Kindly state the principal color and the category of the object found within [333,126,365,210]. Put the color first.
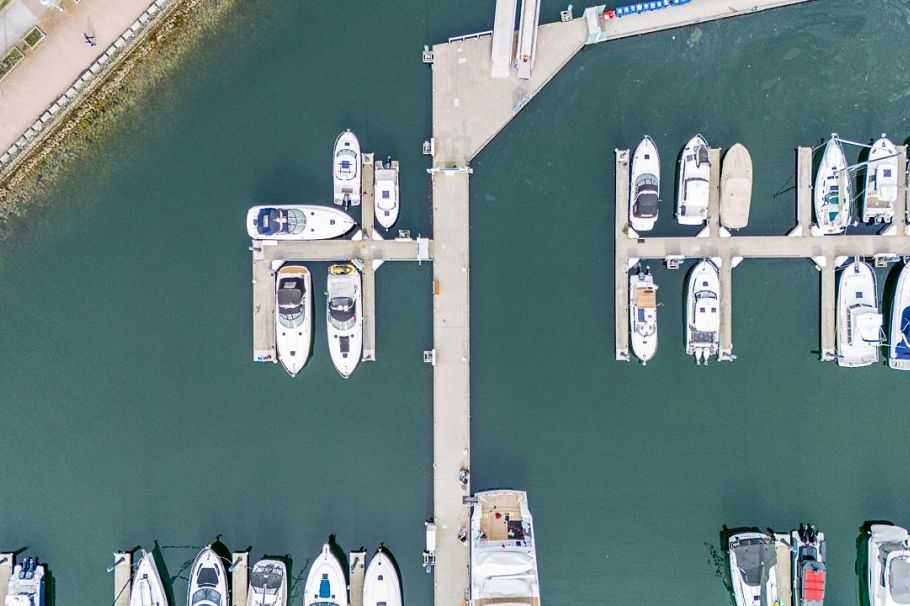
white boat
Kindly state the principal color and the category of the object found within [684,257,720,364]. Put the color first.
white boat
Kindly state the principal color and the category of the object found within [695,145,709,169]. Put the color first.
gray boat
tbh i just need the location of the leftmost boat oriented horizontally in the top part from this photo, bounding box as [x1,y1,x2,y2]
[247,205,359,243]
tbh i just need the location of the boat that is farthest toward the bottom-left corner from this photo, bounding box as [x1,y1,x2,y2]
[3,559,47,606]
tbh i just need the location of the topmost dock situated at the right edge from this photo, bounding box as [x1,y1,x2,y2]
[615,147,910,363]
